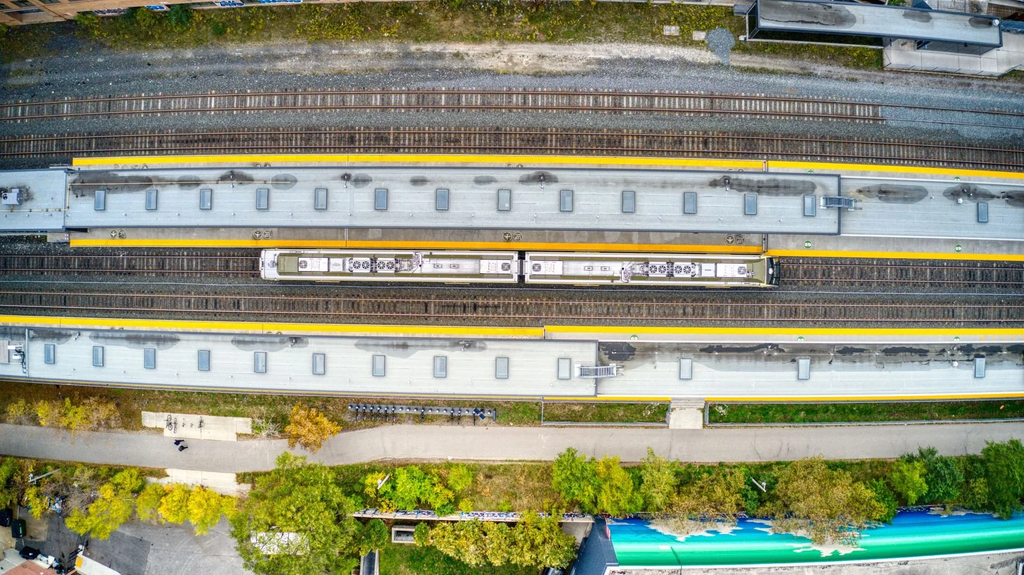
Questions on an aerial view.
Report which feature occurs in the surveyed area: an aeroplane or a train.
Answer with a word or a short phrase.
train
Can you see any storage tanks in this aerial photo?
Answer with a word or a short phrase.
No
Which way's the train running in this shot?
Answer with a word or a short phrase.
from left to right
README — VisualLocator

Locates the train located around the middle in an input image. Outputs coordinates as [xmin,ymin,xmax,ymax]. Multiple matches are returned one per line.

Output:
[261,250,781,288]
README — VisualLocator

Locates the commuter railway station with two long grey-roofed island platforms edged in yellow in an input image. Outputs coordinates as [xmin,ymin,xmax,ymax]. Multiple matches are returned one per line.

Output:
[0,153,1024,410]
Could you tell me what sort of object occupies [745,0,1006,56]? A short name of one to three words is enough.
building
